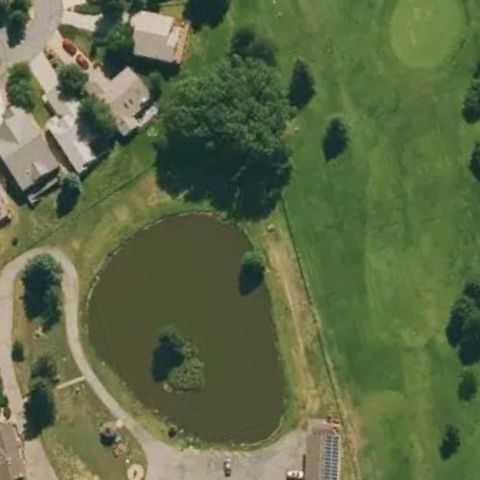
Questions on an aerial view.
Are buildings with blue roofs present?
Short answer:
No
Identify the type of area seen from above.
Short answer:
golf course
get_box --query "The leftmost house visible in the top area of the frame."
[0,110,58,190]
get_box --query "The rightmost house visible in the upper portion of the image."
[130,13,176,62]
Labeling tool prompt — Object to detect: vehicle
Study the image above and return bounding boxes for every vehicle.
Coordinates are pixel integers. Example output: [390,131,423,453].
[63,38,77,54]
[224,456,232,474]
[75,54,89,70]
[286,471,304,479]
